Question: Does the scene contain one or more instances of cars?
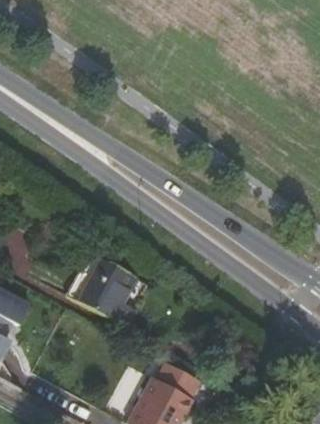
Yes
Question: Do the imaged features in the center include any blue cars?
No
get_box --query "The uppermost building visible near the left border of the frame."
[0,284,32,327]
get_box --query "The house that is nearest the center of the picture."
[68,256,136,316]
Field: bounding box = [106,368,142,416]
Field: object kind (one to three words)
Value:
shed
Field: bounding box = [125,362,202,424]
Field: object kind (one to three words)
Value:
house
